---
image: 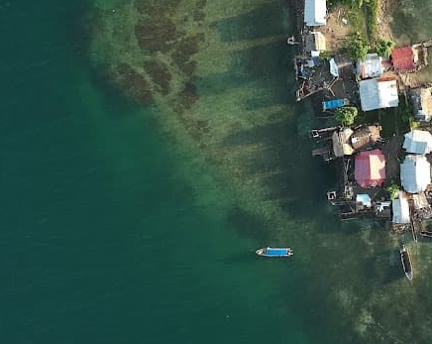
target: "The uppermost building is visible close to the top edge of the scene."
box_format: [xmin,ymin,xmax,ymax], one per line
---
[304,0,326,26]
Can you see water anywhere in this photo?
Yes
